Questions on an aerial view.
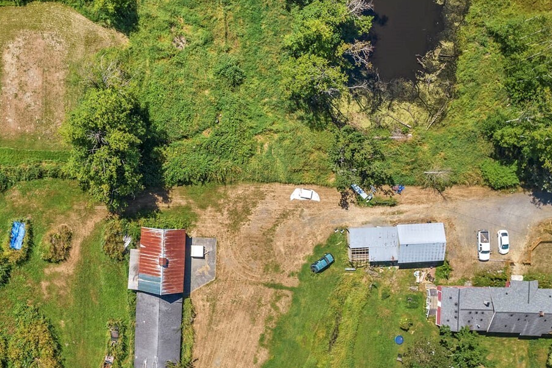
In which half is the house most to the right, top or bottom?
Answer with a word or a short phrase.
bottom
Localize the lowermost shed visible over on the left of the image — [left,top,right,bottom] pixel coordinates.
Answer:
[135,292,182,368]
